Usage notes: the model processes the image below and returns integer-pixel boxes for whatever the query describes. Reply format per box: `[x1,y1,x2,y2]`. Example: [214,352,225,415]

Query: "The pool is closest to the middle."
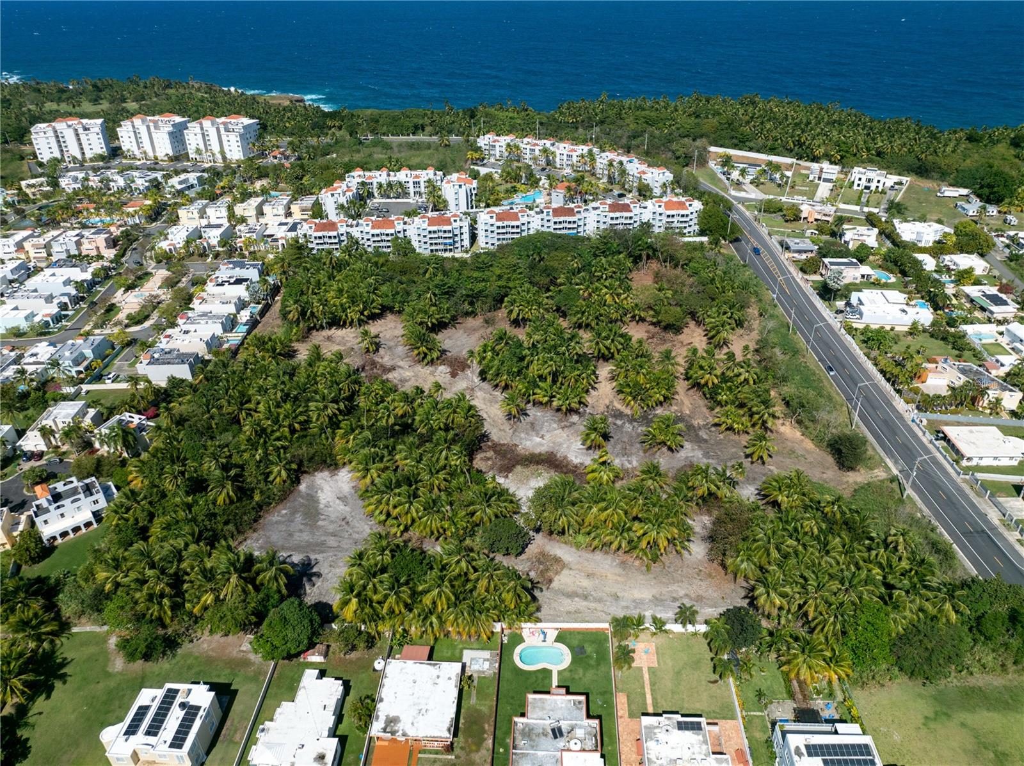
[505,190,543,205]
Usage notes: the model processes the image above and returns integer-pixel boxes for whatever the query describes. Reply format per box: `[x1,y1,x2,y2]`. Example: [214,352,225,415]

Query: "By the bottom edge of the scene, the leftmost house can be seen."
[98,678,222,766]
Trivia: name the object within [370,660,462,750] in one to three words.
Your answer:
house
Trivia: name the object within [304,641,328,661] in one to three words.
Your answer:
shed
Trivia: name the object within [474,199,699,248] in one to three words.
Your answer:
building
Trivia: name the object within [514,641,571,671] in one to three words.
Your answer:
swimming pool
